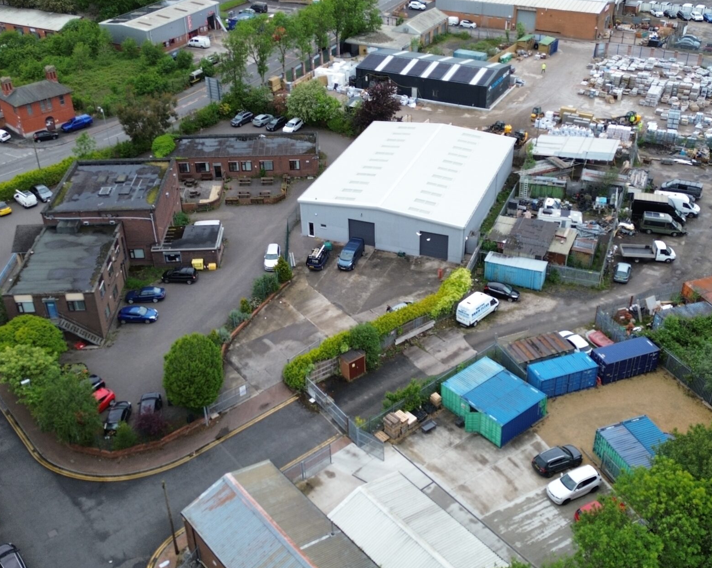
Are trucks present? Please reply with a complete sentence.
Yes, the picture does show a truck.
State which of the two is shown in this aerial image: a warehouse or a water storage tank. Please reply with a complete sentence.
It is a warehouse that can be seen here.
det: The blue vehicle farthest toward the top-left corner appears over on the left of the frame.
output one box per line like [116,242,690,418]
[60,112,93,132]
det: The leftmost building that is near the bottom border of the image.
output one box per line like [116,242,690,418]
[174,456,396,568]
